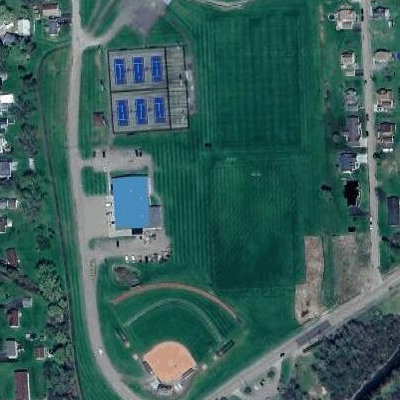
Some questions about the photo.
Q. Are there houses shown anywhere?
Yes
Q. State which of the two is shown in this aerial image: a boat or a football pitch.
football pitch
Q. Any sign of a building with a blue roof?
Yes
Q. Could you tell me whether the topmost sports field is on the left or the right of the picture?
right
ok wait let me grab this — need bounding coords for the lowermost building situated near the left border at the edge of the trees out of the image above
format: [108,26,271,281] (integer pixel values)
[15,371,30,400]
